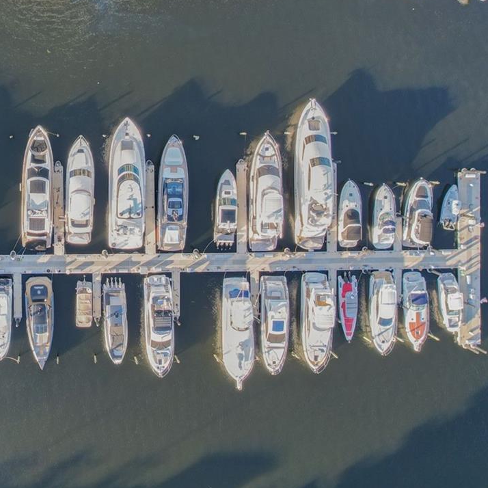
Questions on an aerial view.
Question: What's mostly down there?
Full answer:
The bulk of the photo consists of water.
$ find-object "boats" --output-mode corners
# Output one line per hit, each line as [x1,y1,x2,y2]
[25,271,56,369]
[59,271,95,359]
[333,179,369,256]
[152,133,192,254]
[292,271,340,375]
[400,177,436,253]
[434,271,466,336]
[253,271,294,376]
[96,272,136,365]
[288,98,333,256]
[140,272,176,379]
[0,277,18,360]
[438,179,470,236]
[246,130,286,254]
[333,271,365,351]
[368,183,399,248]
[16,124,54,255]
[398,271,429,351]
[365,270,398,358]
[59,135,100,254]
[208,138,243,252]
[217,271,273,390]
[106,116,145,255]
